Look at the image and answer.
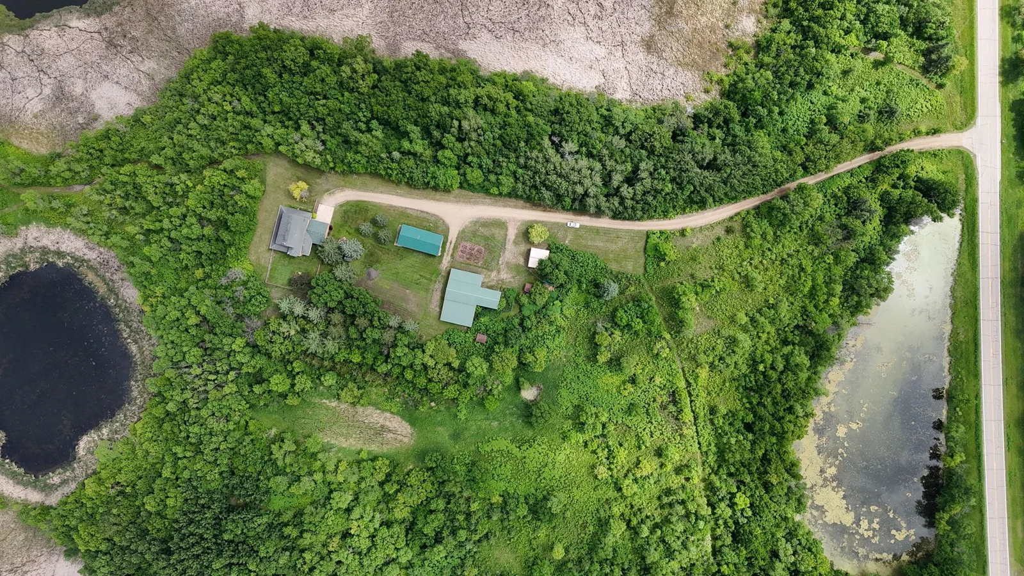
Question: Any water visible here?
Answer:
Yes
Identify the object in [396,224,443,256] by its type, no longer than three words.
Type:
shed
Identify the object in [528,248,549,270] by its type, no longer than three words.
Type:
shed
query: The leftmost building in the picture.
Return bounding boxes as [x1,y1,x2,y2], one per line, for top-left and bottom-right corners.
[270,205,329,257]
